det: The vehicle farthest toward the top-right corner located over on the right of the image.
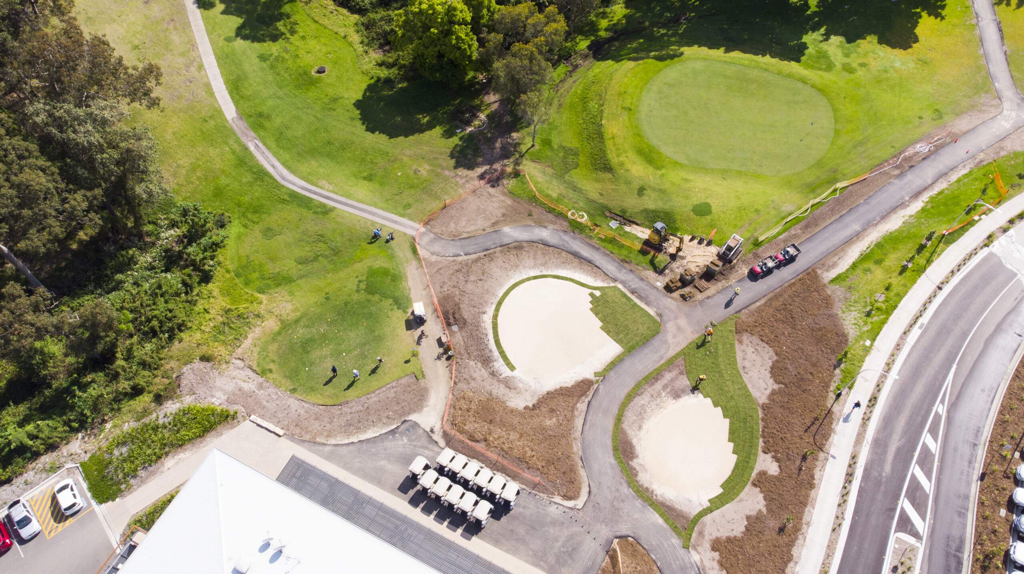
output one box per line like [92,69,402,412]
[774,242,802,265]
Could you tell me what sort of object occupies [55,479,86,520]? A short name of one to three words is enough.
car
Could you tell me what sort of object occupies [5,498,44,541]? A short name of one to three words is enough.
car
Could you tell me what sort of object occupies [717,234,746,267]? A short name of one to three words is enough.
work vehicle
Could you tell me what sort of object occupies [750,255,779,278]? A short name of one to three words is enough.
vehicle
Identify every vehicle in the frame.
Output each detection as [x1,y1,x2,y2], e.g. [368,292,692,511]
[472,469,495,498]
[644,229,685,257]
[1009,492,1024,512]
[717,234,746,267]
[430,477,454,506]
[485,475,508,505]
[443,485,467,514]
[0,528,14,560]
[469,500,493,530]
[750,255,779,278]
[434,448,457,477]
[406,456,430,485]
[413,301,428,324]
[1006,543,1024,564]
[459,462,482,491]
[417,470,441,499]
[446,454,470,483]
[5,498,44,541]
[498,482,521,512]
[456,492,479,522]
[774,242,802,265]
[55,479,86,520]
